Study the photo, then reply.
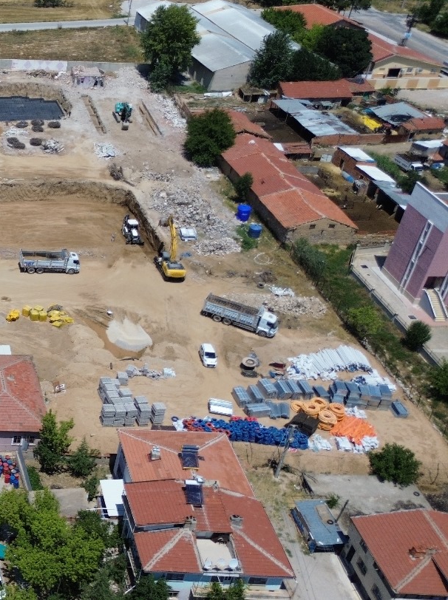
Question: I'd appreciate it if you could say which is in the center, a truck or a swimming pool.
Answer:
truck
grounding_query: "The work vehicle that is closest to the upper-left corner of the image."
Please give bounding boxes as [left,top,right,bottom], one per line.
[115,106,132,123]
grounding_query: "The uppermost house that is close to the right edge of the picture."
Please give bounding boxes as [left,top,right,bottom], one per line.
[343,24,442,81]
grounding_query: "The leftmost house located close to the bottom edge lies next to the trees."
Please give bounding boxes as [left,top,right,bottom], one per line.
[85,423,296,600]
